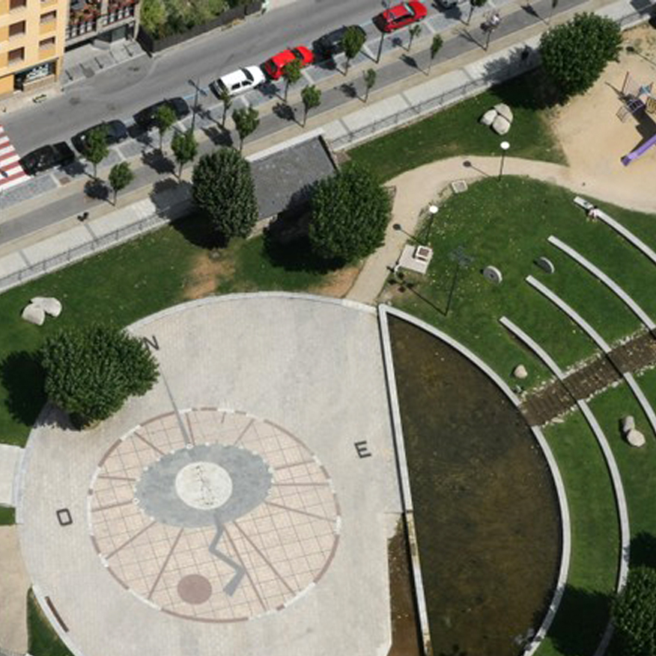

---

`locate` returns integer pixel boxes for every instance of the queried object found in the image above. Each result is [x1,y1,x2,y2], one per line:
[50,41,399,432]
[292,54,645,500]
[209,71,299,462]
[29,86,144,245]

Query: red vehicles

[373,0,431,32]
[261,43,316,78]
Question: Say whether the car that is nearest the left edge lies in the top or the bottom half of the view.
top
